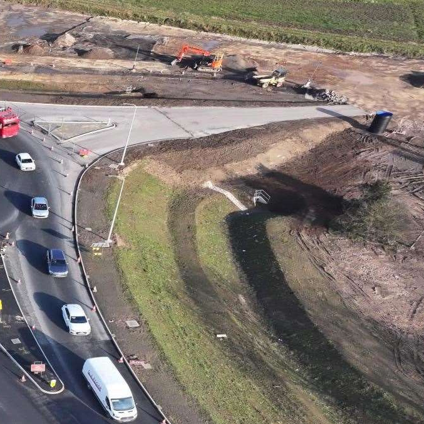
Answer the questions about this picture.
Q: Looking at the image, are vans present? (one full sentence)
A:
Yes, I can see a van in this picture.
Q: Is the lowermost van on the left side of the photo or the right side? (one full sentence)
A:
The lowermost van sits on the left side.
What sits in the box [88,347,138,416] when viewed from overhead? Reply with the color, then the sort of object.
white van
